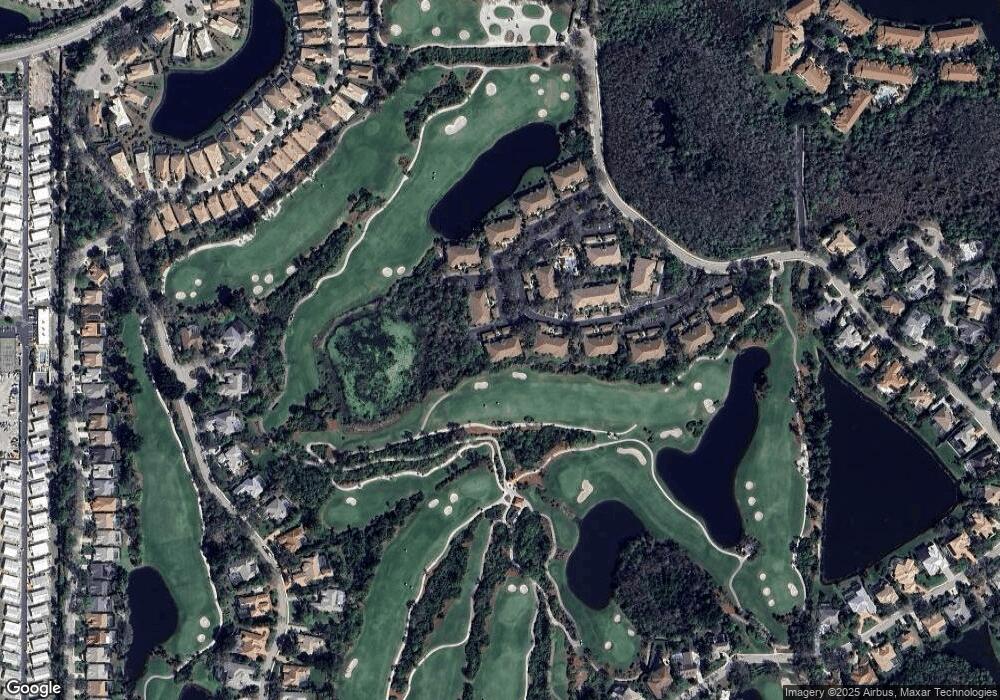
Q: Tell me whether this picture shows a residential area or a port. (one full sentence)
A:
The picture captures a residential area.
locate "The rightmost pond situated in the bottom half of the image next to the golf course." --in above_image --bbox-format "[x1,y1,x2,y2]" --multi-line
[819,357,960,585]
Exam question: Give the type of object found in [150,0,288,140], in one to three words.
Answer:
pond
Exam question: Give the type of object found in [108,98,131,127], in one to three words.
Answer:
house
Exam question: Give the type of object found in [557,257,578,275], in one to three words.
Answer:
swimming pool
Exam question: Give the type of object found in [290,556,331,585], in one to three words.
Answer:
house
